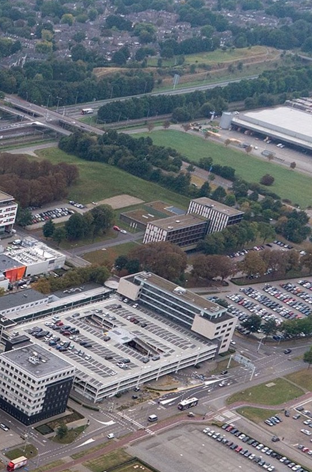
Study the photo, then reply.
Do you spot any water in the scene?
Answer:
No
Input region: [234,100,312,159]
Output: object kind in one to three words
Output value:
building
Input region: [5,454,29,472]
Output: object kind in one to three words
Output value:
vehicle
